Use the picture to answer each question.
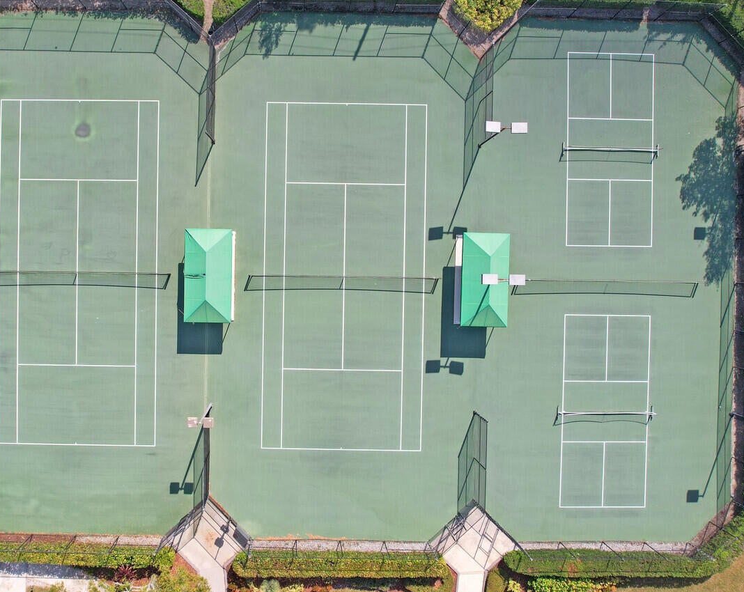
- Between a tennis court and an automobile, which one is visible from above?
tennis court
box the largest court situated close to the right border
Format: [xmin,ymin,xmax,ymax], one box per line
[473,17,741,543]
